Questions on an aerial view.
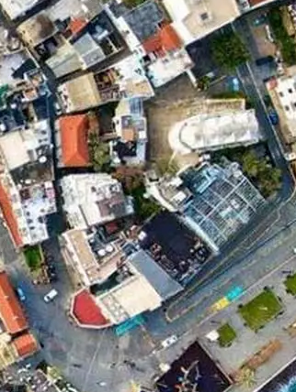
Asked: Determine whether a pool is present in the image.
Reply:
No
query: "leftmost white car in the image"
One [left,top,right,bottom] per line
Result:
[42,287,59,303]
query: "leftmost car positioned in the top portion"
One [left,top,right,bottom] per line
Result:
[229,72,243,91]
